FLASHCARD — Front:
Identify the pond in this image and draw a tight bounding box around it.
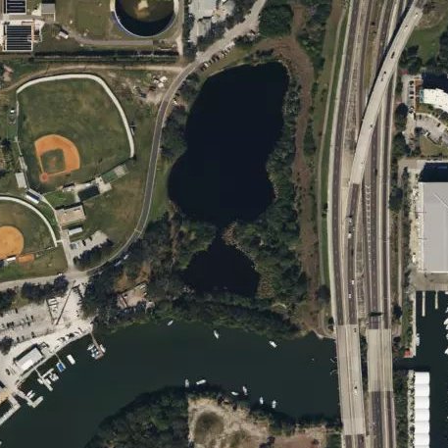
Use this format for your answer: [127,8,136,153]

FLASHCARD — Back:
[168,61,287,296]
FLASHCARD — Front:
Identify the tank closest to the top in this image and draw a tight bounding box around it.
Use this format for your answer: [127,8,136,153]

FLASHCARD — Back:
[114,0,177,33]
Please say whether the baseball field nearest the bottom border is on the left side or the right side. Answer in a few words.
left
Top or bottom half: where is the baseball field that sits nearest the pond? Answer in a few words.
top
